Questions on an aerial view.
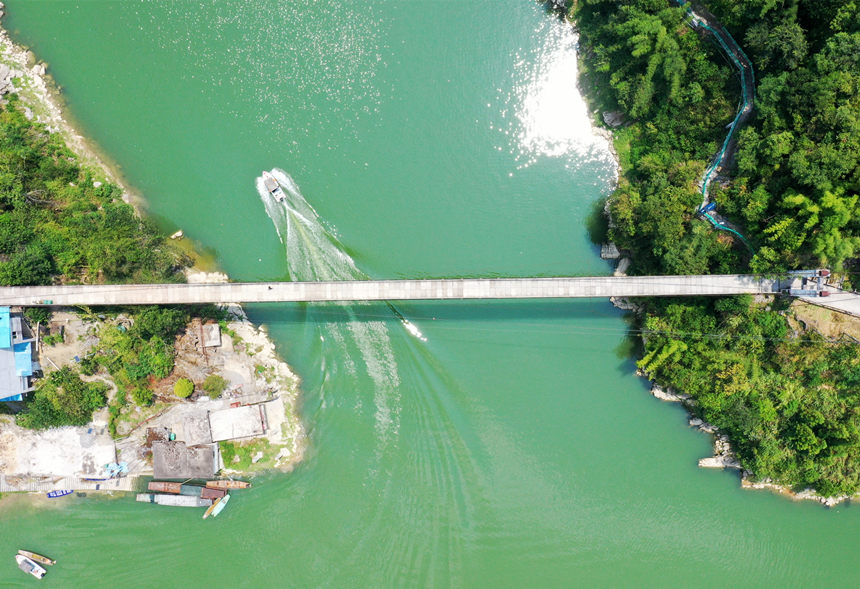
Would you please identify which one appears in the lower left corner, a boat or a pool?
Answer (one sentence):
The feature located in the lower left corner is a boat.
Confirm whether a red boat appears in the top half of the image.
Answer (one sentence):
No, no red boat appears in the top half of the image.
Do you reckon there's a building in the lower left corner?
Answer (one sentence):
Yes, there is a building in the lower left corner.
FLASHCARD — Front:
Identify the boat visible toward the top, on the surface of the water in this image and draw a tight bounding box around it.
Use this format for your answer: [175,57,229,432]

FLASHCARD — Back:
[263,171,285,203]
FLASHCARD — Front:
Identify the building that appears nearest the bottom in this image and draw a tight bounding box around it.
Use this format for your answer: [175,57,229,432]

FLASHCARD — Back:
[151,440,219,479]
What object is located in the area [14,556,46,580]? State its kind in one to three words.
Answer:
boat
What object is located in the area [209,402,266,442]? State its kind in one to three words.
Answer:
house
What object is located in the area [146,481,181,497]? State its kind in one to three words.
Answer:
ship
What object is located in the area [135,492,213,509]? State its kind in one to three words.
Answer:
ship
